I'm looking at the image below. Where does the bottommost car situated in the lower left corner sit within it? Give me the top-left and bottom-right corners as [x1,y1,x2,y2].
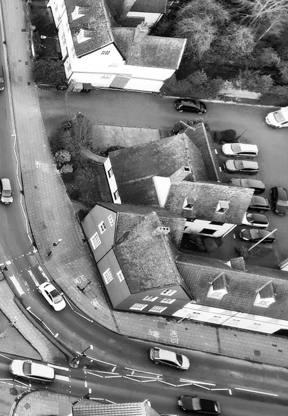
[10,358,56,382]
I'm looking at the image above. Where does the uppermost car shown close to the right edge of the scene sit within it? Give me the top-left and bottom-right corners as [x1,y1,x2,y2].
[264,110,288,128]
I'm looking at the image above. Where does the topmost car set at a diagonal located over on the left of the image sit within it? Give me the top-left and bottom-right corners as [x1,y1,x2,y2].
[31,277,72,315]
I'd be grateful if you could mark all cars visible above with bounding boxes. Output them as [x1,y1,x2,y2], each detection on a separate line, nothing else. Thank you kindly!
[224,157,262,176]
[236,226,281,245]
[230,175,270,194]
[0,174,17,208]
[243,211,274,229]
[148,345,192,372]
[10,358,56,382]
[248,196,277,213]
[176,392,225,416]
[264,110,288,128]
[31,277,72,315]
[219,141,262,159]
[269,182,288,218]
